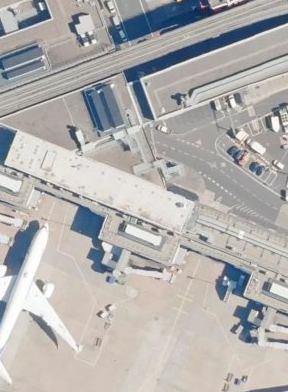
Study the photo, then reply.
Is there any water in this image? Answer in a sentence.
No, there's no water in this view.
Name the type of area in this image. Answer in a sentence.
The area seen from above is an airport.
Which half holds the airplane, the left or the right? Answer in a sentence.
The airplane appears in the left half of the scene.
